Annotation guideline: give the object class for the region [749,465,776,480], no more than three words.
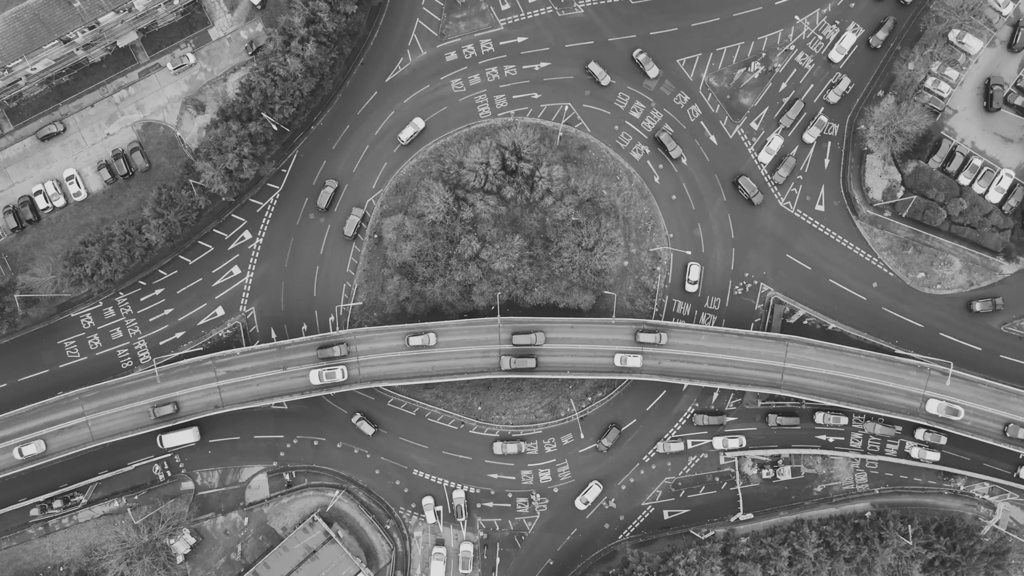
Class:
work vehicle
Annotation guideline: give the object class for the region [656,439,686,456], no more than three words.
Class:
car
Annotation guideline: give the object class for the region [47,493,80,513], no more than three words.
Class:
vehicle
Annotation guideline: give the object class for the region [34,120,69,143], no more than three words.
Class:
car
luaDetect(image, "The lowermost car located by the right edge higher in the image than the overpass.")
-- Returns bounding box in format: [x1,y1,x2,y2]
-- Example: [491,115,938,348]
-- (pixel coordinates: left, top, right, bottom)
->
[966,295,1005,314]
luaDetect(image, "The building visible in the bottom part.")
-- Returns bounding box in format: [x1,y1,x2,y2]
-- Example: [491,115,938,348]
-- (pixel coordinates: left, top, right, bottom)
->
[244,509,380,576]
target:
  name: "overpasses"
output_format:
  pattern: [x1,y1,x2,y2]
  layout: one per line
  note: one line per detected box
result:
[0,316,1024,477]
